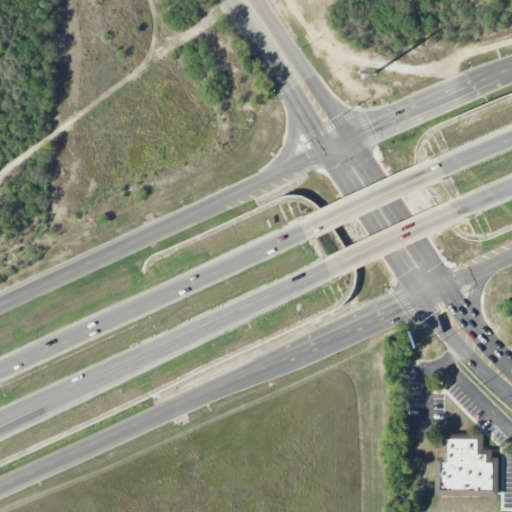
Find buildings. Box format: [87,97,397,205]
[436,434,498,496]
